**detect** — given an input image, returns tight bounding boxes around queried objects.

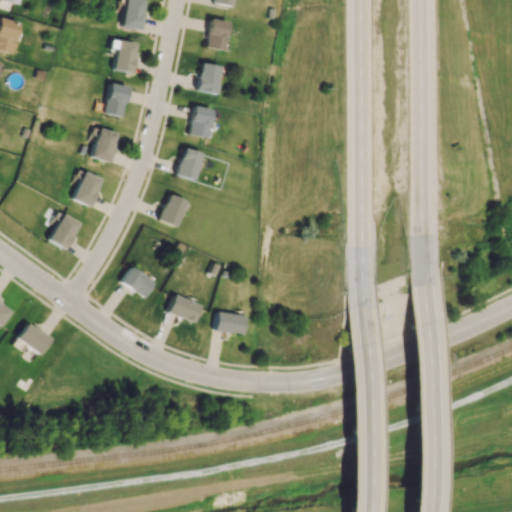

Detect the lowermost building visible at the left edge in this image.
[18,323,52,355]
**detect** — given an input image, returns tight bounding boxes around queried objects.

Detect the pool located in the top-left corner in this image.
[2,72,25,90]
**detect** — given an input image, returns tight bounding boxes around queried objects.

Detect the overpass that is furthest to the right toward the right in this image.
[410,235,454,512]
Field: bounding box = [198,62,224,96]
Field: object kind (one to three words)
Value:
house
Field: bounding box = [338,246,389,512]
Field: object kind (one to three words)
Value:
overpass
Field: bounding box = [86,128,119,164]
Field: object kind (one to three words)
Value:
house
